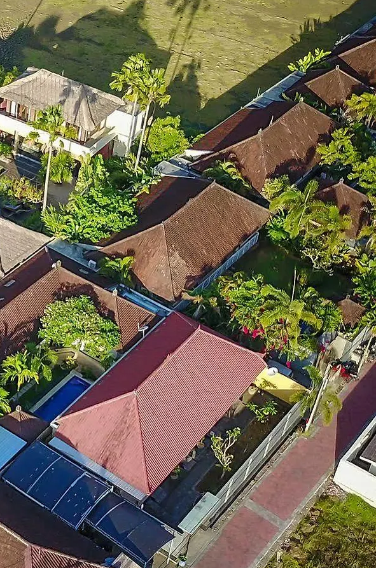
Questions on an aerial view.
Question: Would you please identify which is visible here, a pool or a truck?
pool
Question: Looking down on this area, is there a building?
Yes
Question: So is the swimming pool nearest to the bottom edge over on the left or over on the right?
left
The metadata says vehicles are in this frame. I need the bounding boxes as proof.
[335,353,343,373]
[343,356,359,371]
